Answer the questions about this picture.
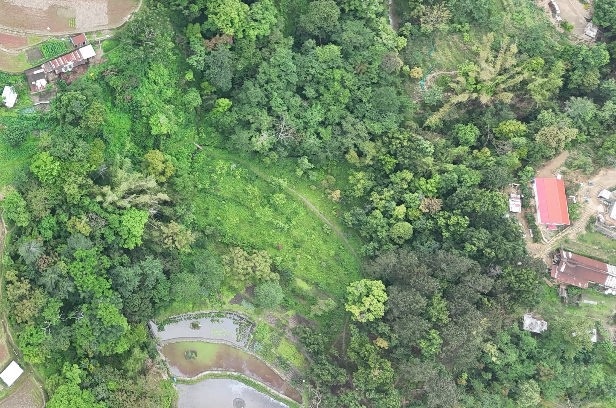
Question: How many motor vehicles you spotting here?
zero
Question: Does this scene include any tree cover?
Yes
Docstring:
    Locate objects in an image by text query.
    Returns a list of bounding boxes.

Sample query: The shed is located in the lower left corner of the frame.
[0,361,24,386]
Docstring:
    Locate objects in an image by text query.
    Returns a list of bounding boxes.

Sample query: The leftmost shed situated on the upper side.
[1,85,17,113]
